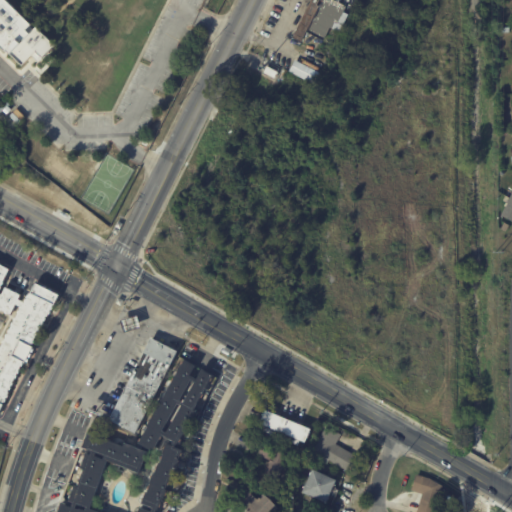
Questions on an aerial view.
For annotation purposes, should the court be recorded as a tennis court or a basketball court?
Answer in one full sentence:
It looks like the court is a basketball court.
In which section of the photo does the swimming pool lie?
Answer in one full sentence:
The swimming pool appears toward the bottom left of the photo.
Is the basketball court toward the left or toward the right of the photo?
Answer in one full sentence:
The basketball court is on the left side of the image.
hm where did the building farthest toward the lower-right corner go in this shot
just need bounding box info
[412,474,444,512]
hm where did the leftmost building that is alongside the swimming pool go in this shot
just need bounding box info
[58,448,108,512]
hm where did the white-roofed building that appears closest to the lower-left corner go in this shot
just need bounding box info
[0,336,36,403]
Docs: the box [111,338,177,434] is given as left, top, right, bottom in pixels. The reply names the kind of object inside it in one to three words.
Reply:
building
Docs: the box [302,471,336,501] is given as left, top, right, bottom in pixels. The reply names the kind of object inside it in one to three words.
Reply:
house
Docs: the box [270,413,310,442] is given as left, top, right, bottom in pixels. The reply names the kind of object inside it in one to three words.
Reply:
building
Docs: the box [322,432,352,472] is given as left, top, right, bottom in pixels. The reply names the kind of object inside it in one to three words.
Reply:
house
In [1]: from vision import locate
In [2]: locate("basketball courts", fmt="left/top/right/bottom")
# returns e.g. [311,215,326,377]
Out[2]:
[82,154,134,214]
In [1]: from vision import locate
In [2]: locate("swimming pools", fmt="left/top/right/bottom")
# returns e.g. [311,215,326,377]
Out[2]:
[108,476,130,508]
